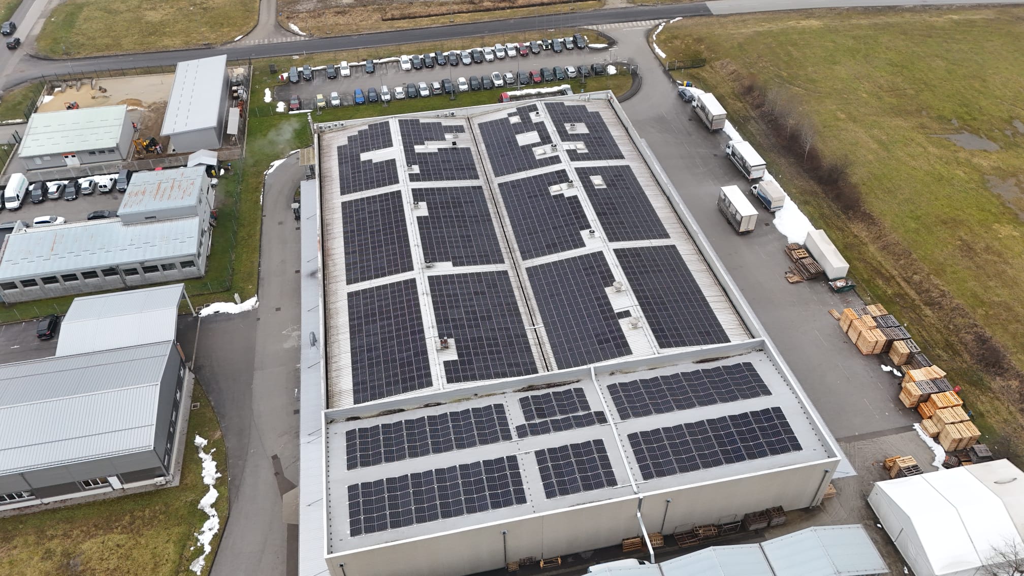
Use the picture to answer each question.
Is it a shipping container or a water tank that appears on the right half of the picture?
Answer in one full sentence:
Visible on the right half of the picture is a shipping container.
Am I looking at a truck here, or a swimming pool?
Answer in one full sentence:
It is a truck that can be seen here.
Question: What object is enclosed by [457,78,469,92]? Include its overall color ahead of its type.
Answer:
white vehicle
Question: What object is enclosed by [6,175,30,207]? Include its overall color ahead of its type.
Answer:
white vehicle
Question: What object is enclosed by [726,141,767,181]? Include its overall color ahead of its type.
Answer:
white truck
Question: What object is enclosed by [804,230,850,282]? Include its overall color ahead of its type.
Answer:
white shipping container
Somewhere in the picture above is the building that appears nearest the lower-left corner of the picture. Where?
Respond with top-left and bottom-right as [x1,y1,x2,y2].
[0,340,193,516]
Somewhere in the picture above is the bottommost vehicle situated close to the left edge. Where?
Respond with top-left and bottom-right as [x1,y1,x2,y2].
[36,314,61,342]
